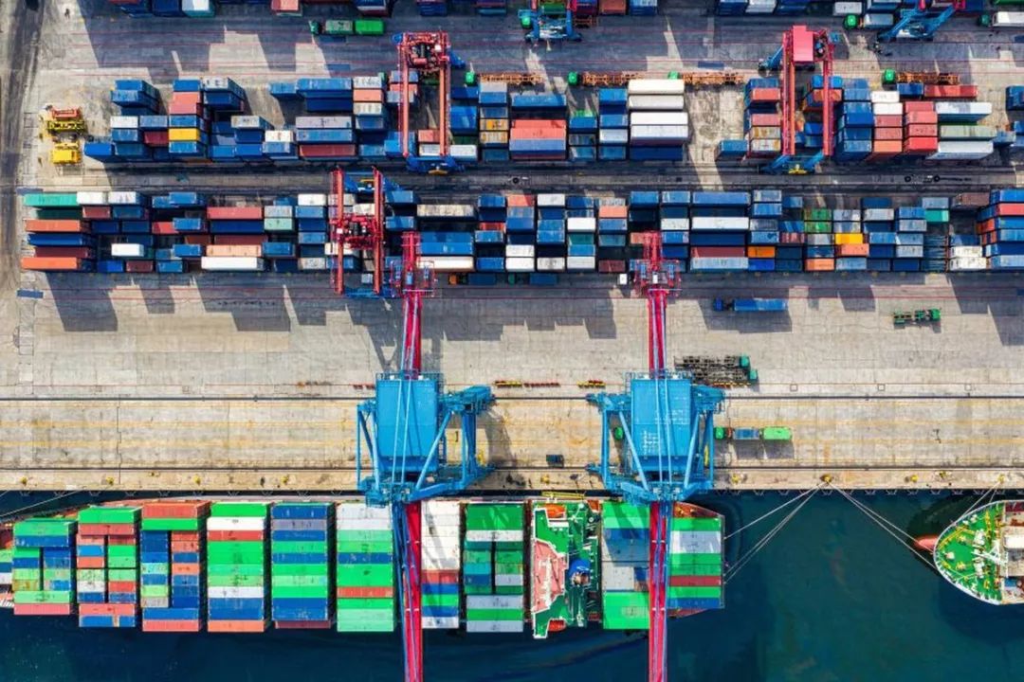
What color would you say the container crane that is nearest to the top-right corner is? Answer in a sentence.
The color of the container crane that is nearest to the top-right corner is blue.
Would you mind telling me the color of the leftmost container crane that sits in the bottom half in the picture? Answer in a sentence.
The leftmost container crane that sits in the bottom half is blue.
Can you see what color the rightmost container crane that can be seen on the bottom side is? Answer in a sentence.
The color of the rightmost container crane that can be seen on the bottom side is blue.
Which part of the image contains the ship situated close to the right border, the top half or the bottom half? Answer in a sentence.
It is in the bottom half that the ship situated close to the right border appears.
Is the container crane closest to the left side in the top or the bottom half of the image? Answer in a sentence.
The container crane closest to the left side sits in the top half of the picture.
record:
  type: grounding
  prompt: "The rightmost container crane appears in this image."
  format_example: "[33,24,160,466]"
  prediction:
[871,0,968,49]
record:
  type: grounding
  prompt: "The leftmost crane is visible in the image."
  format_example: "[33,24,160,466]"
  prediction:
[329,166,413,299]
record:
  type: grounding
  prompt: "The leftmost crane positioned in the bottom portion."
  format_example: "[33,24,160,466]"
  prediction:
[349,233,507,682]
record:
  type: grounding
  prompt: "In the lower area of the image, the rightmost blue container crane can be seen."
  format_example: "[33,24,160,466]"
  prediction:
[582,232,727,682]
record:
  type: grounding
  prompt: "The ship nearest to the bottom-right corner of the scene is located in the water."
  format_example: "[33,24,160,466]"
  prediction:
[905,494,1024,608]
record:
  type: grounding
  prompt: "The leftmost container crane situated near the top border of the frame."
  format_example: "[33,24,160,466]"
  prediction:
[395,30,473,182]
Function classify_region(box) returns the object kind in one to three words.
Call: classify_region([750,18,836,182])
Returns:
container crane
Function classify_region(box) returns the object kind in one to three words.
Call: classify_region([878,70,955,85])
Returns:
vehicle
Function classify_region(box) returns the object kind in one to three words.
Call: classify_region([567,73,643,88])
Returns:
vehicle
